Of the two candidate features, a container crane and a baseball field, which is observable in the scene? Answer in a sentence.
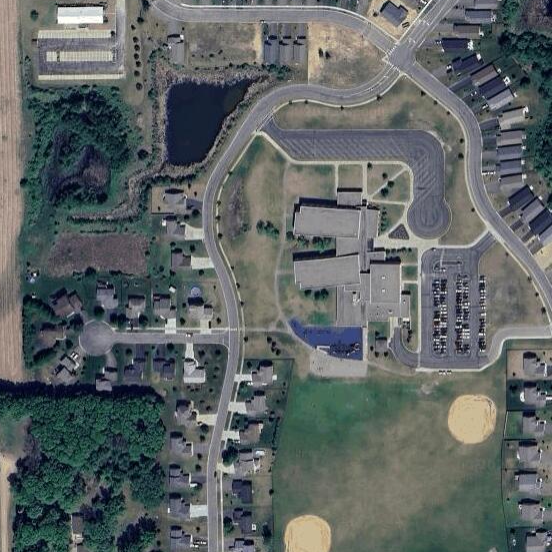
This aerial view contains a baseball field.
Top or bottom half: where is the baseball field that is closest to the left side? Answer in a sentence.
It is in the bottom half that the baseball field that is closest to the left side appears.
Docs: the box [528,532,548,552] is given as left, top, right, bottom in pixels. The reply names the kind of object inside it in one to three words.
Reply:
house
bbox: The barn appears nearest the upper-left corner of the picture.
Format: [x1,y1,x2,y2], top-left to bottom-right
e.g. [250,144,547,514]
[58,7,104,24]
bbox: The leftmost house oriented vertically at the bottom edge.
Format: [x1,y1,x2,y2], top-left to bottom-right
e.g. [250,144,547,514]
[70,514,83,542]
